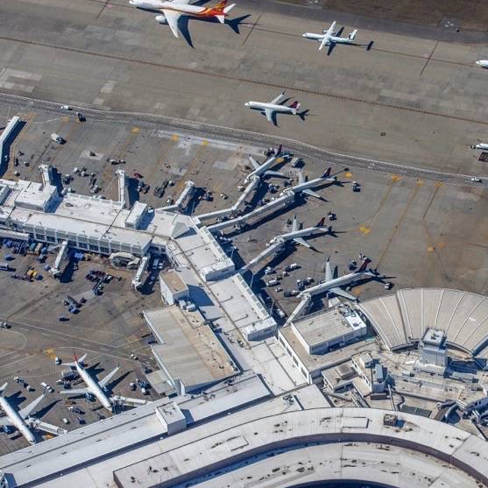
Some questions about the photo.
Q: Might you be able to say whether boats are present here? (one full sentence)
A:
No, no boat can be seen from above.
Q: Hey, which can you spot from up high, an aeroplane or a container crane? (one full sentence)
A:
Looking from above, you can make out an aeroplane.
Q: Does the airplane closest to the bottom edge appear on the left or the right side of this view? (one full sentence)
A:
You can find the airplane closest to the bottom edge on the left side of the picture.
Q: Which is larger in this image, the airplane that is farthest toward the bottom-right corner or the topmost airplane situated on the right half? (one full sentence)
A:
The airplane that is farthest toward the bottom-right corner takes up more space than the topmost airplane situated on the right half does.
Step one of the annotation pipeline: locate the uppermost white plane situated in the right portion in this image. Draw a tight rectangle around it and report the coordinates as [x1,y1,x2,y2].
[300,22,355,51]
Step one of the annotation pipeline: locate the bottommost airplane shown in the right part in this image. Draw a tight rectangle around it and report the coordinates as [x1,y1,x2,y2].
[295,253,382,303]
